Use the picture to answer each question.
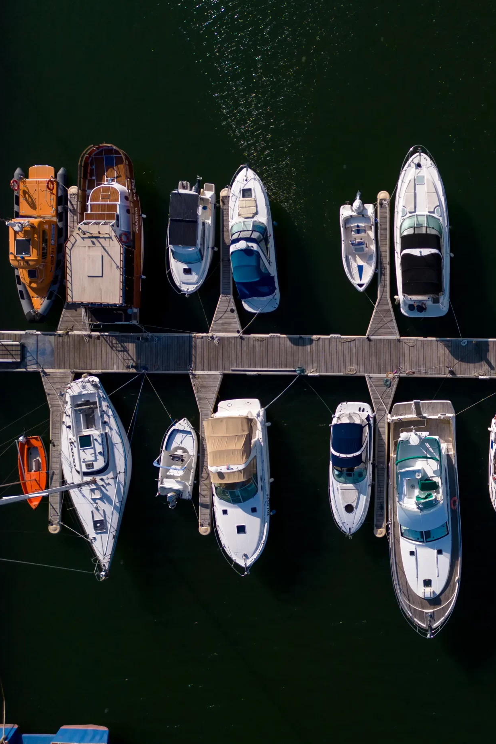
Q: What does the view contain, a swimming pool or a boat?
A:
boat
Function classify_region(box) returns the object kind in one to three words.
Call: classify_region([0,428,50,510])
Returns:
boat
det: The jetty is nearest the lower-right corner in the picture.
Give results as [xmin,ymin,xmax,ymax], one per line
[365,376,400,538]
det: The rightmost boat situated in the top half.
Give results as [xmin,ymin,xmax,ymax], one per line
[395,145,450,317]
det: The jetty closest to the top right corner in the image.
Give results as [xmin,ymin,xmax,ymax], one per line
[365,191,401,337]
